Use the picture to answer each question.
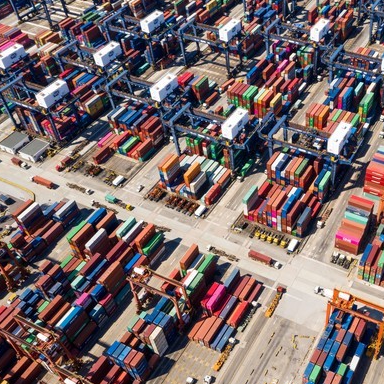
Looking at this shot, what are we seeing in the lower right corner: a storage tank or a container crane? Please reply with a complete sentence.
Looking in the lower right corner, you will find a container crane.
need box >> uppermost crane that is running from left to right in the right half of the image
[225,0,291,28]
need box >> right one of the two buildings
[18,138,52,161]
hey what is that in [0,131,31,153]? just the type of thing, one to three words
building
